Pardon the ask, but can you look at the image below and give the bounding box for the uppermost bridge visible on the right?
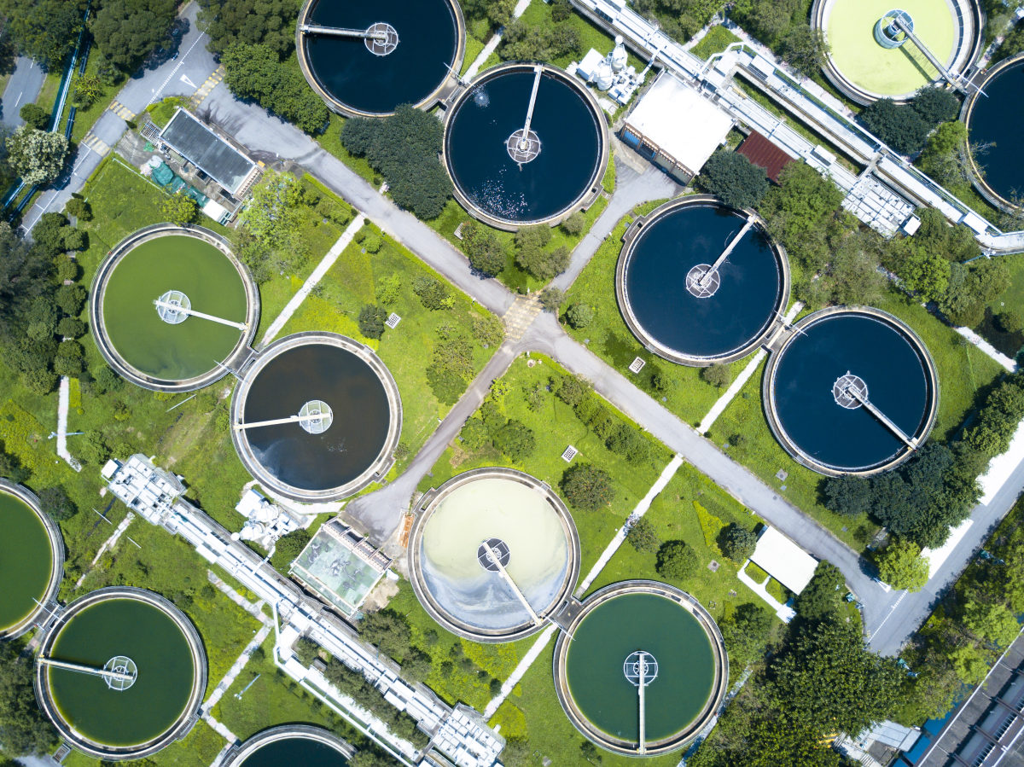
[895,13,961,86]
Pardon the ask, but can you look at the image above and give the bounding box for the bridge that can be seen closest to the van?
[152,300,254,336]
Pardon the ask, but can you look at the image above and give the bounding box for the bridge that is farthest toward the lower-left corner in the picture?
[32,650,134,684]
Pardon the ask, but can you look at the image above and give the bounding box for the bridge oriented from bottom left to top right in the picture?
[699,212,762,284]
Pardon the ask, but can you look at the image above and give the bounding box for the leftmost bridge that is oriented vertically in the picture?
[522,60,547,150]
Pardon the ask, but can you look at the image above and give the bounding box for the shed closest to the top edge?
[577,48,604,82]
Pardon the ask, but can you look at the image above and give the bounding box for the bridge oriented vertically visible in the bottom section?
[633,657,650,757]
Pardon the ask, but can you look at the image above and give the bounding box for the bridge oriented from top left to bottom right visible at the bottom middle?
[483,543,547,627]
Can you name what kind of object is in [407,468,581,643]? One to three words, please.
storage tank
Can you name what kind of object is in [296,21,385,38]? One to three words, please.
bridge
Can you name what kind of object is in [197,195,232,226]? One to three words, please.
van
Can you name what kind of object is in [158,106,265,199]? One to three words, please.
building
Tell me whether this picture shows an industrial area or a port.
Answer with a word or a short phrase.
industrial area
